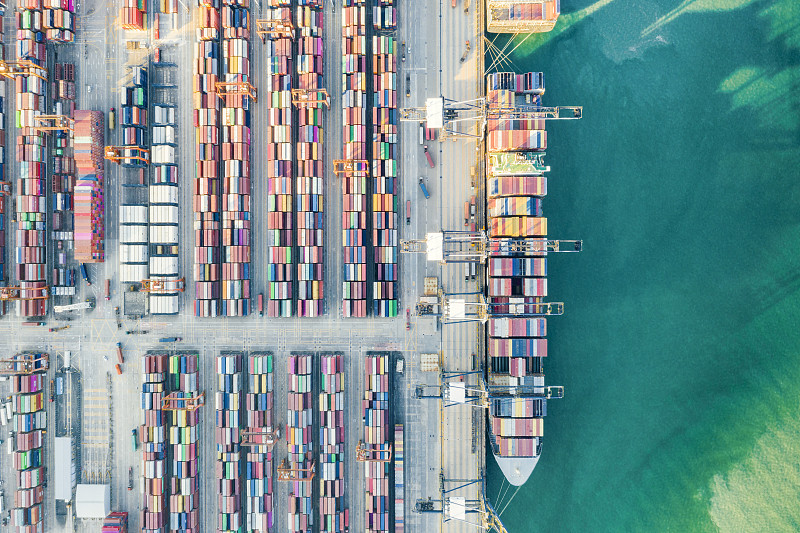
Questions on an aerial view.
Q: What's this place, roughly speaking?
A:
port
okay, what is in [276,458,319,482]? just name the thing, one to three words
container crane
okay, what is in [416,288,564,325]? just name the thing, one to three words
container crane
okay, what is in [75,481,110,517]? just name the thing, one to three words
shed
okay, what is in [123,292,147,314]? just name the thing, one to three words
building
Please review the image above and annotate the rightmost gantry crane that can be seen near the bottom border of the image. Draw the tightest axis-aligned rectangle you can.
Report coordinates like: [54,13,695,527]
[416,464,521,533]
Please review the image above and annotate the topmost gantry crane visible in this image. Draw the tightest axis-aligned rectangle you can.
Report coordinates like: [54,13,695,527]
[255,19,298,45]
